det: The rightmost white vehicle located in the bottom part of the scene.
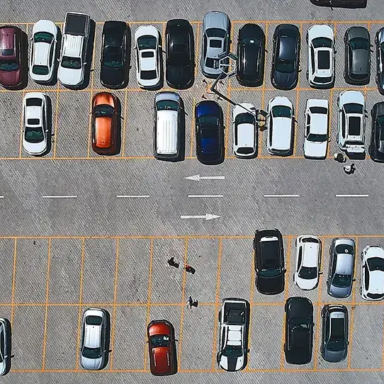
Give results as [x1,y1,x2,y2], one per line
[360,245,384,300]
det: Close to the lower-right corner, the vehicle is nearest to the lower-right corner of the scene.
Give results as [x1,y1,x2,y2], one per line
[321,304,351,361]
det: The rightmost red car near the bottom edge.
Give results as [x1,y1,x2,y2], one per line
[146,320,176,375]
